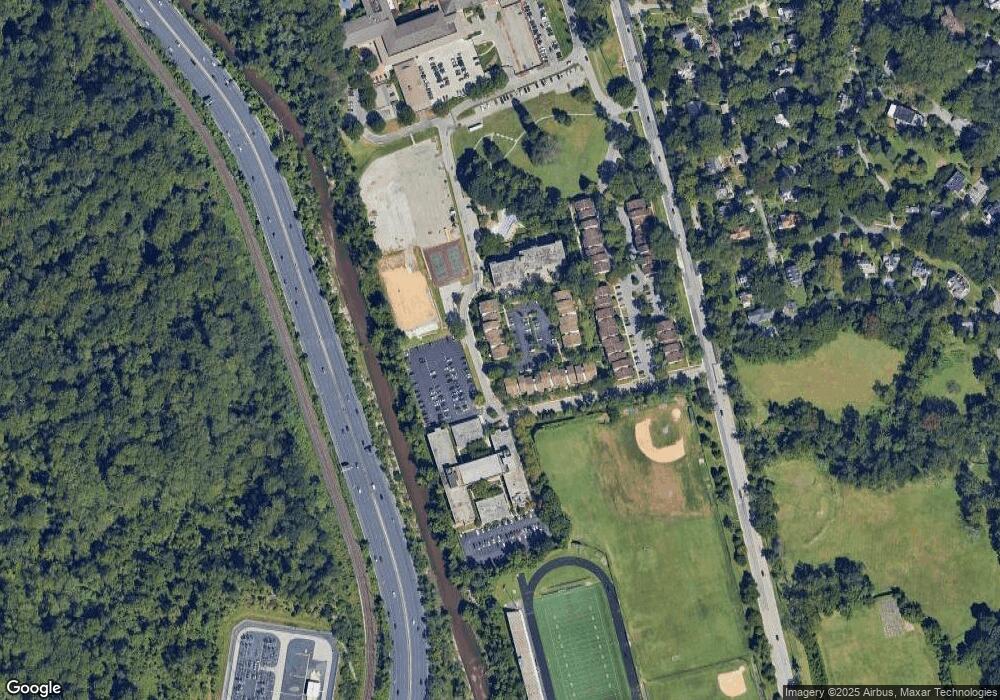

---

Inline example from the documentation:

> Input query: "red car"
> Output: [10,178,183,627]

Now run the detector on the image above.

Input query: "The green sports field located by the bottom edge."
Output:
[534,581,628,700]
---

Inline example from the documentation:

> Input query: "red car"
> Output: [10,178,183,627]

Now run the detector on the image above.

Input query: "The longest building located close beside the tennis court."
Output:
[490,240,566,289]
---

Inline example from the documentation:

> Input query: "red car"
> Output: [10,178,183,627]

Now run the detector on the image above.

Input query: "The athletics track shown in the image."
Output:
[518,556,636,700]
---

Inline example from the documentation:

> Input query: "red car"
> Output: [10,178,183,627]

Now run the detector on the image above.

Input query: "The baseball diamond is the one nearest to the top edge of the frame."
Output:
[635,405,686,463]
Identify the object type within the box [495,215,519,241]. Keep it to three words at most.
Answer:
house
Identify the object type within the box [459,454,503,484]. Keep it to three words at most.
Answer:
building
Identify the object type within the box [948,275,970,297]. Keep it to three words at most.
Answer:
house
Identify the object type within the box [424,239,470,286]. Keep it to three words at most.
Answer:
tennis court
